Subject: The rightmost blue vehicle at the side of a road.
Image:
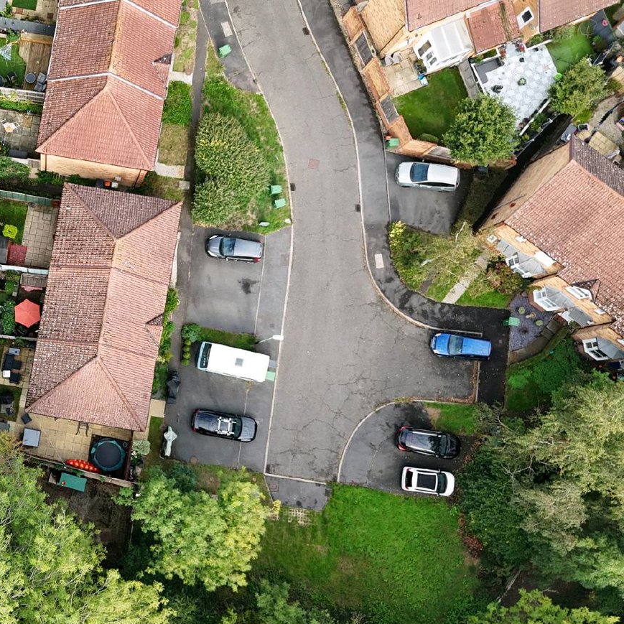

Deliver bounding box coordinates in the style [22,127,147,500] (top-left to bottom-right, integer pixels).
[428,329,495,363]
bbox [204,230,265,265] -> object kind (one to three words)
car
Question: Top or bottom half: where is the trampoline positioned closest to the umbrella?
bottom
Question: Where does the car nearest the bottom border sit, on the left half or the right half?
right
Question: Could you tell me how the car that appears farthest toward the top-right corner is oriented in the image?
horizontally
